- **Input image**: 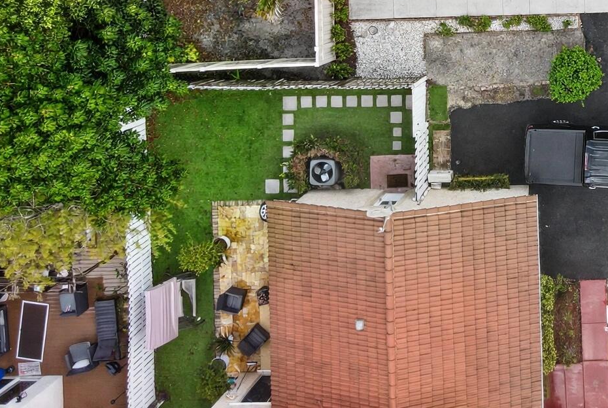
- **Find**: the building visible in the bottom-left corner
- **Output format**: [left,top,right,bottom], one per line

[0,377,62,408]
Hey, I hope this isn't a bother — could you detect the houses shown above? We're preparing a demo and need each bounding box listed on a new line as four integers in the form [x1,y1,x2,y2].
[200,185,539,408]
[0,377,62,408]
